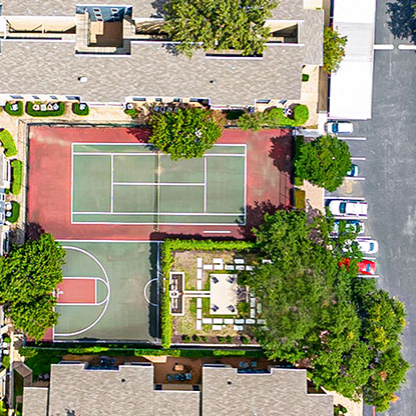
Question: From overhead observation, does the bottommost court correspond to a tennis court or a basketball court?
basketball court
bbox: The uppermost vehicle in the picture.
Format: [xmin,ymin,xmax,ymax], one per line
[321,119,358,135]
